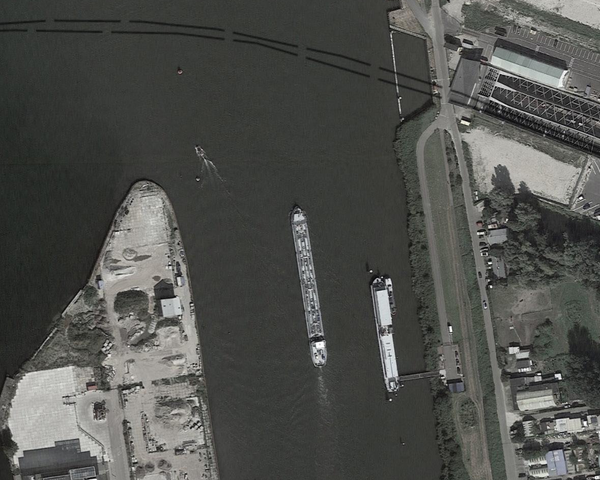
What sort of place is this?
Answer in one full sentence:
This looks like a port.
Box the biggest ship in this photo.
[291,207,326,368]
